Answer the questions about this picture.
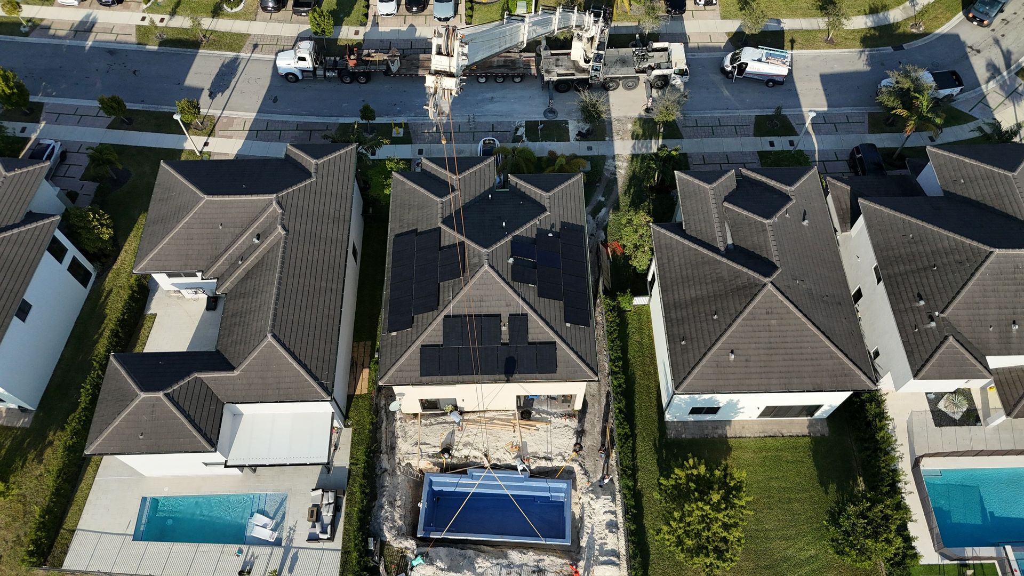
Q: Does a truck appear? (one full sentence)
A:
Yes, you can see a truck in this photo.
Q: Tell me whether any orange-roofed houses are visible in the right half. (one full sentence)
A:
No, looking in the right half, there is no orange-roofed house.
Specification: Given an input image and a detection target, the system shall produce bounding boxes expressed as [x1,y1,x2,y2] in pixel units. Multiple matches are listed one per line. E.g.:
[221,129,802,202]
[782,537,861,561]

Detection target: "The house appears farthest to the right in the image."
[826,145,1024,430]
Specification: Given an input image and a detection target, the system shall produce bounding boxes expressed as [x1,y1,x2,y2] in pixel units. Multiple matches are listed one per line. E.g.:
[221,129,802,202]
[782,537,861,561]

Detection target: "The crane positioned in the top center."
[417,1,701,127]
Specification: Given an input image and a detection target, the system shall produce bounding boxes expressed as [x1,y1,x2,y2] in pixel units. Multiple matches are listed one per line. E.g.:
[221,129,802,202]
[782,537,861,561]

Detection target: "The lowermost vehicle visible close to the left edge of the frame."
[30,134,75,178]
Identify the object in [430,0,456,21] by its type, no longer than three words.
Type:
car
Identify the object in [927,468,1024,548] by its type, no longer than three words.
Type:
swimming pool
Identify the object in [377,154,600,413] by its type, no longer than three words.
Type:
house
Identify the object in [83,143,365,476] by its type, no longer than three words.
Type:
house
